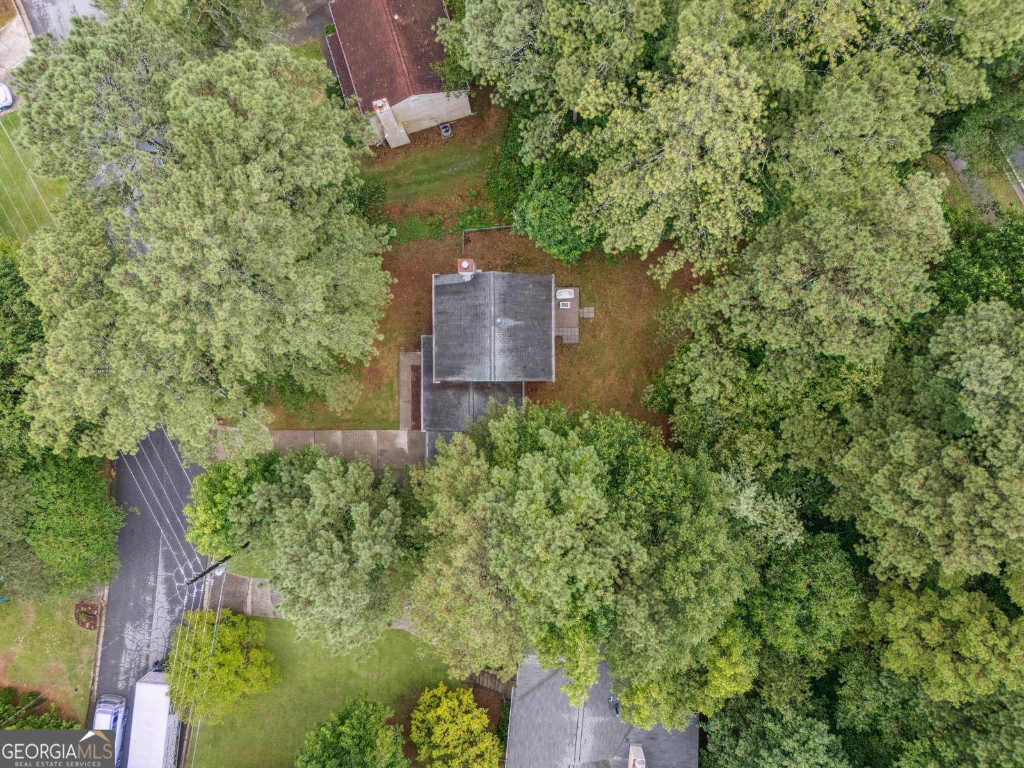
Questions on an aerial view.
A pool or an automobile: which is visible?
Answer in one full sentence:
Looking from above, you can make out an automobile.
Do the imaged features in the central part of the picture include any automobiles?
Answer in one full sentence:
No, looking in the central part of the picture, there is no automobile.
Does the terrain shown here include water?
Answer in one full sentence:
No, water can't be seen anywhere here.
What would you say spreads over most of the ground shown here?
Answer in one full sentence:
What you mostly see from above here is trees.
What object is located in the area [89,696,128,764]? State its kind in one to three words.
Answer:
car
